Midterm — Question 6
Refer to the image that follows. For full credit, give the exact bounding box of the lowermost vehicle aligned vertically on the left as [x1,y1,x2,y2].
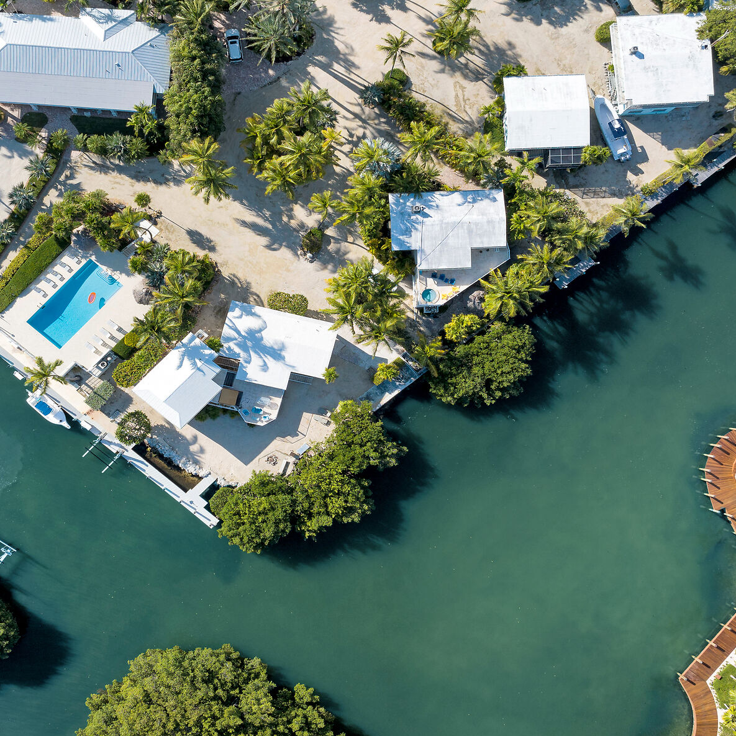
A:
[225,28,242,64]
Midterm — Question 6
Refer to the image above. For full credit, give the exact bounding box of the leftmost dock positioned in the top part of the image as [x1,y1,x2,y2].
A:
[555,259,596,290]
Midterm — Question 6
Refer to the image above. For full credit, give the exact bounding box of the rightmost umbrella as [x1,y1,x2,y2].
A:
[129,281,156,307]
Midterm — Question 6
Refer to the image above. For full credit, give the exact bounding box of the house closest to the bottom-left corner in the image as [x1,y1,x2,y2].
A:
[132,332,224,429]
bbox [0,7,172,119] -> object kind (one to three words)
house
